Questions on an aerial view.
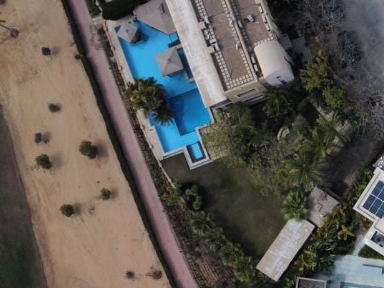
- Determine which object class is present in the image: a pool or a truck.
pool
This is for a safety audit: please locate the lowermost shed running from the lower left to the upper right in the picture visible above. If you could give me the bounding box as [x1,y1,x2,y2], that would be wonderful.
[256,219,319,281]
